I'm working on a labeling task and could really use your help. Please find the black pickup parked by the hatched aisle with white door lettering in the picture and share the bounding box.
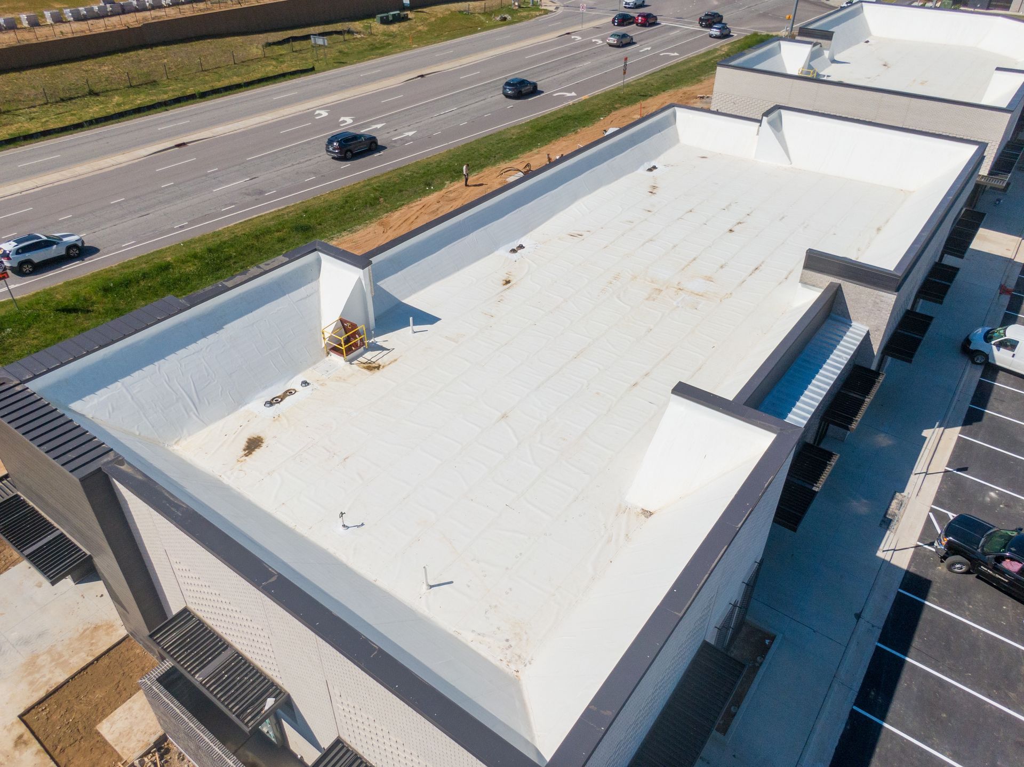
[932,512,1024,594]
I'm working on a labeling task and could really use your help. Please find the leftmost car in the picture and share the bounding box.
[0,233,86,273]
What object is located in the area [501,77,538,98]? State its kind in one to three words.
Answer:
car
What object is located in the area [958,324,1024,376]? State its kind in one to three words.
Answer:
van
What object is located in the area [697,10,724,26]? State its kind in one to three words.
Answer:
vehicle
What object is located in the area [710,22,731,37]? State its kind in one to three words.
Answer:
car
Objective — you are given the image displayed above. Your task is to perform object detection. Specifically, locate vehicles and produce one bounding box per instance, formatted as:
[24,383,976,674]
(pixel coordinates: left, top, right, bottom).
[324,130,380,158]
[697,10,724,26]
[932,512,1024,594]
[607,32,634,46]
[958,324,1024,376]
[0,233,86,273]
[636,13,659,27]
[611,13,636,26]
[623,0,646,8]
[501,77,538,98]
[710,22,731,37]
